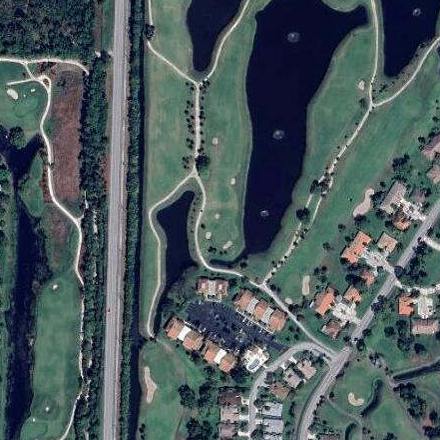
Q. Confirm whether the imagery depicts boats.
No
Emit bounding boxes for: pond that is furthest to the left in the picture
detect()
[153,190,197,333]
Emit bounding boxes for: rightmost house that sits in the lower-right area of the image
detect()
[412,316,439,336]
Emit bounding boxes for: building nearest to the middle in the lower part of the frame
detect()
[197,279,227,301]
